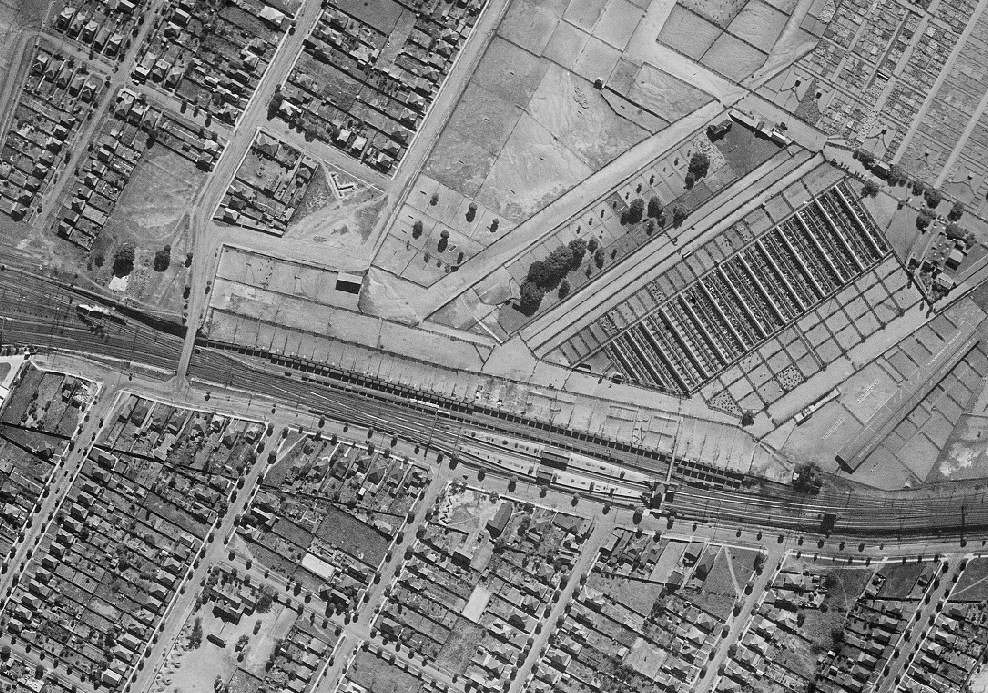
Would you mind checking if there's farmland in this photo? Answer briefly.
Yes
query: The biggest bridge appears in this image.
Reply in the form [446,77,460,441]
[175,319,195,386]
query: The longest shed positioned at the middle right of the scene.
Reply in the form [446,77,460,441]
[832,328,976,464]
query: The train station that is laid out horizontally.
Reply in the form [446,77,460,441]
[458,430,652,498]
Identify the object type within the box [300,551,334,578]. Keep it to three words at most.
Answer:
building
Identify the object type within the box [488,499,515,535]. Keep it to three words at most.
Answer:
building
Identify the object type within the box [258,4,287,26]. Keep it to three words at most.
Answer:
house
